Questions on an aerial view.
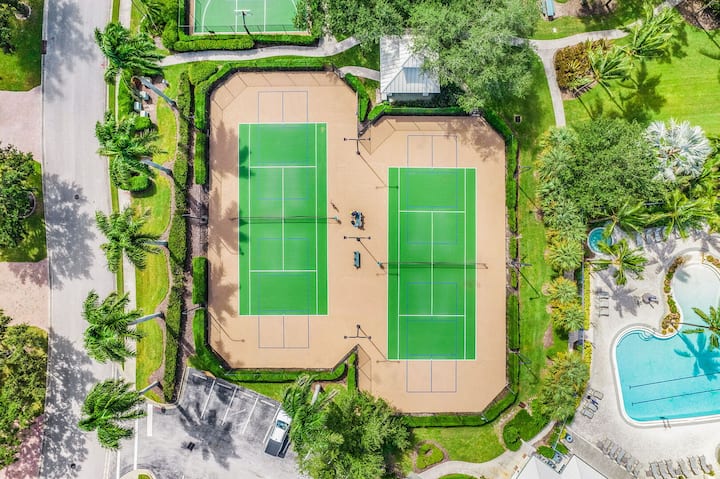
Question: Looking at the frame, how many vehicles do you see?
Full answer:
Just 1 vehicle appears in this view.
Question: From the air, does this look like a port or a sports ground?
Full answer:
This looks like a sports ground.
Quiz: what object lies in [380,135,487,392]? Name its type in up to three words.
tennis court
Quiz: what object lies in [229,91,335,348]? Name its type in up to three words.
tennis court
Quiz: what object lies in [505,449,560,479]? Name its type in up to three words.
building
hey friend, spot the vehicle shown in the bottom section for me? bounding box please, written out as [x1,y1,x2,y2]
[265,407,298,457]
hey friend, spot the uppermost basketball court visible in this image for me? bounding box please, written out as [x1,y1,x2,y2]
[188,0,315,36]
